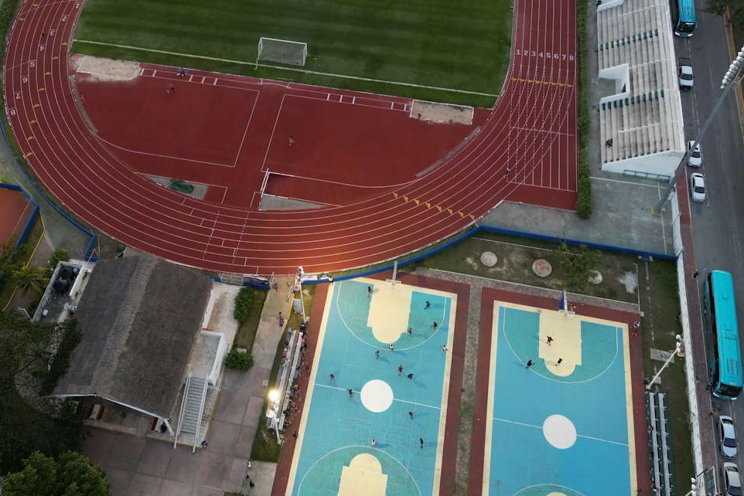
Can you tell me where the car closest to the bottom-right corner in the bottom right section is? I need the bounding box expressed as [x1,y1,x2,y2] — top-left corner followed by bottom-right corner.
[723,461,744,496]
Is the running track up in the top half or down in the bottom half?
top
